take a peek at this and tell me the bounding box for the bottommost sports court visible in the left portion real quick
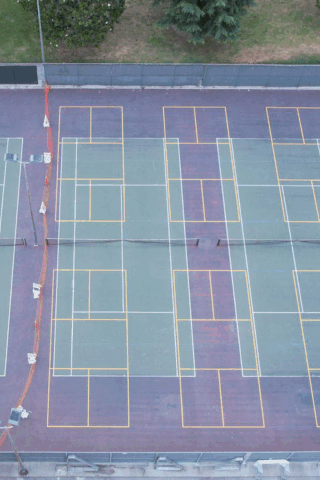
[46,270,128,426]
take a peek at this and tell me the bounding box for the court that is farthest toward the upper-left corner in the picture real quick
[55,107,124,222]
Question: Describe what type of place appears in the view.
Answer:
sports ground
